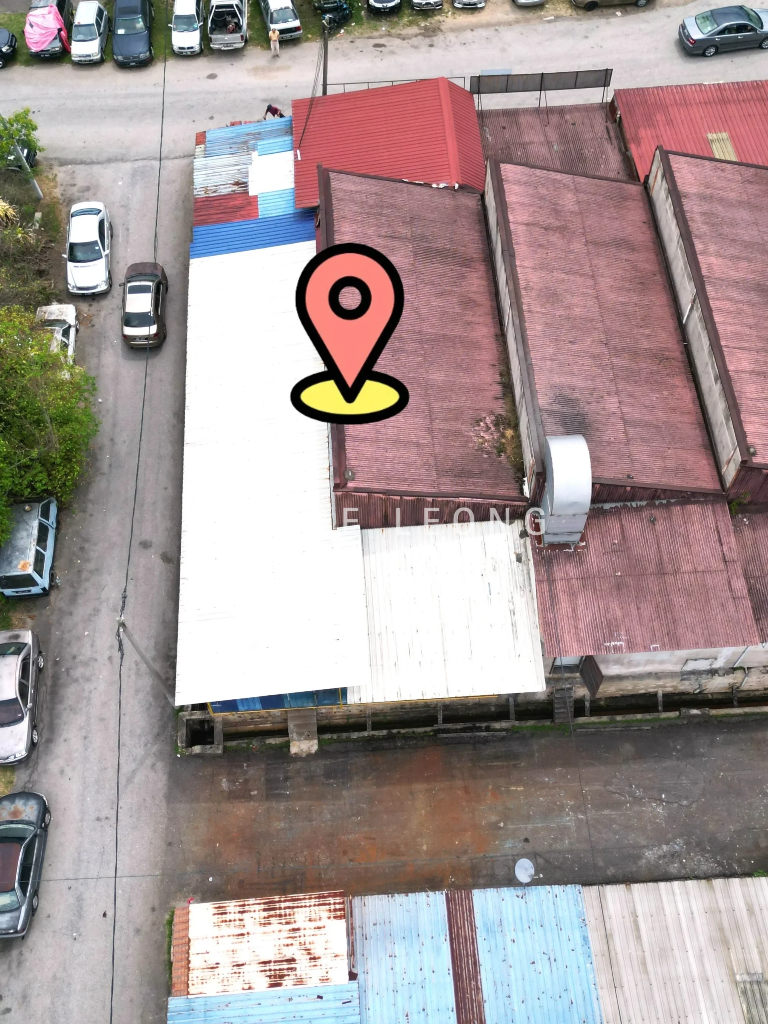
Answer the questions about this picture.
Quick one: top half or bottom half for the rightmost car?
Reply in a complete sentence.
The rightmost car is in the top half of the image.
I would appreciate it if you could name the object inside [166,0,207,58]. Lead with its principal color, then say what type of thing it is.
white car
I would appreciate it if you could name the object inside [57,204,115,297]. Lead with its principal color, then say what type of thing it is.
white car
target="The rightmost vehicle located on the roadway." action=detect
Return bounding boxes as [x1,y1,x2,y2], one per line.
[678,5,768,58]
